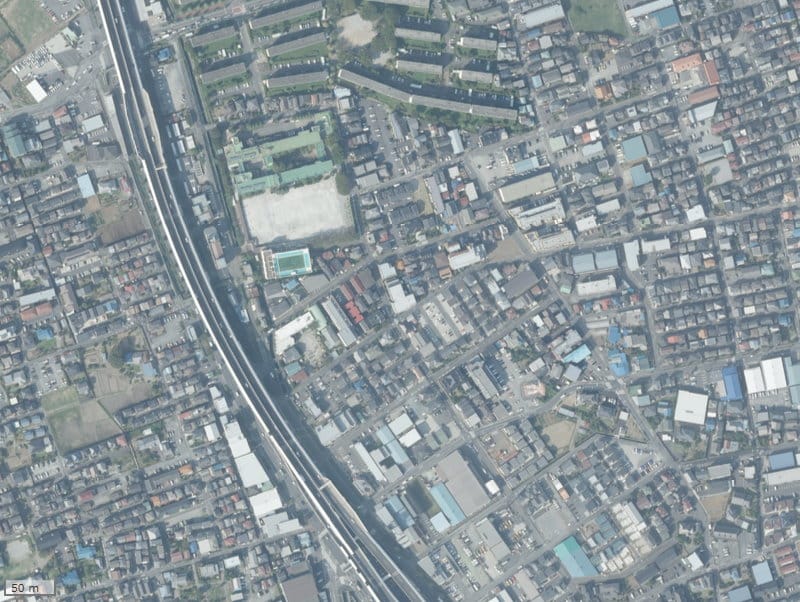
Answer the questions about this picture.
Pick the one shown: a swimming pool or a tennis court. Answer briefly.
swimming pool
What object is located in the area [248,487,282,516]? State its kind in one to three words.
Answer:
building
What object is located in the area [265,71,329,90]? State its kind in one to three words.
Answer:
building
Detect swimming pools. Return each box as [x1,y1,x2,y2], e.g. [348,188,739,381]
[273,249,312,278]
